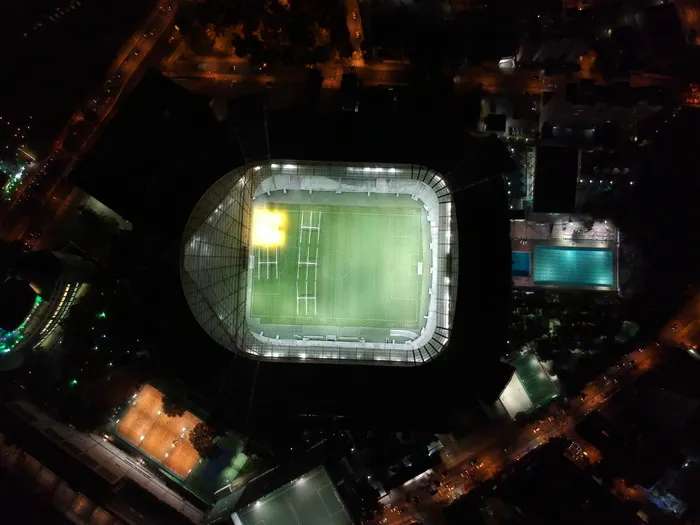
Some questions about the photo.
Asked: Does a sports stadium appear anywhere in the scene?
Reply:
Yes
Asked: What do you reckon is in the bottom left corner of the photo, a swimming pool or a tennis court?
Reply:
tennis court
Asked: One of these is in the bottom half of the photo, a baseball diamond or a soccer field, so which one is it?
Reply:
soccer field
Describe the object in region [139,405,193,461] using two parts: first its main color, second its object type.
orange tennis court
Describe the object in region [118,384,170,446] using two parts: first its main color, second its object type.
orange tennis court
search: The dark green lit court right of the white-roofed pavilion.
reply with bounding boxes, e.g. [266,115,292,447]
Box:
[516,354,560,407]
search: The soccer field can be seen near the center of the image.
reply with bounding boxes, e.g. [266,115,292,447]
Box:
[248,202,422,327]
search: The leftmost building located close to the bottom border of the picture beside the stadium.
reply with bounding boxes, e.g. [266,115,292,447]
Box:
[5,396,206,524]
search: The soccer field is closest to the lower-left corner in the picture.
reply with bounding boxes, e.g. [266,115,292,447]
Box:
[237,463,353,525]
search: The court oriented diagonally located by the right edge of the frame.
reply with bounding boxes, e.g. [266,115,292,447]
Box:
[642,484,686,518]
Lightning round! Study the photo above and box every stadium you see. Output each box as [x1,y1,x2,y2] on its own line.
[142,107,516,411]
